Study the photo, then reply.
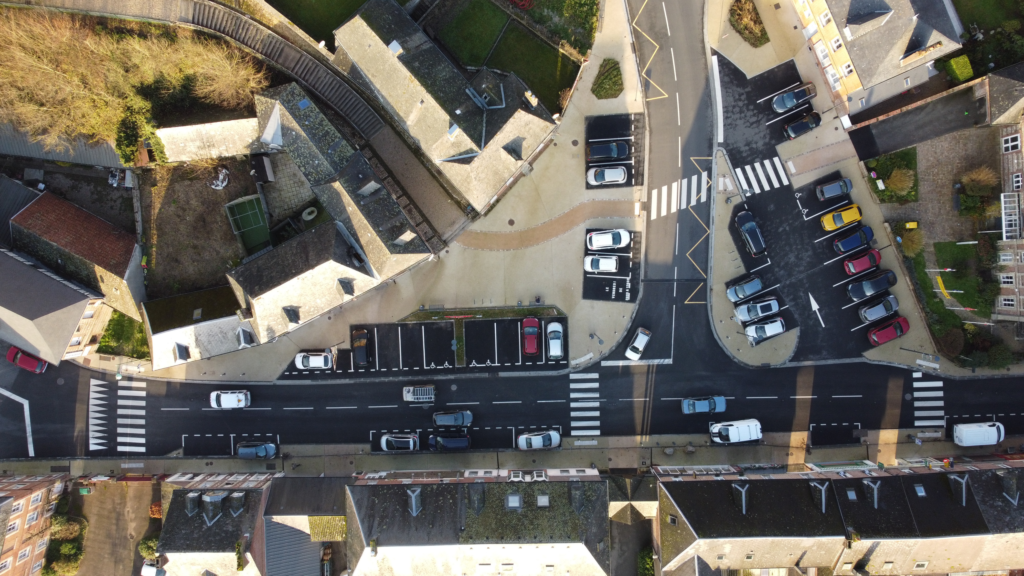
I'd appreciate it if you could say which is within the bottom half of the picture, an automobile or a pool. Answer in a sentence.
Visible within the bottom half of the picture is an automobile.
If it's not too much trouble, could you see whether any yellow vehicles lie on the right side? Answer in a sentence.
Yes, a yellow vehicle appears on the right side.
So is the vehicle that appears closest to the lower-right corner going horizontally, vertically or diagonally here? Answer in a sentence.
What the image shows is the vehicle that appears closest to the lower-right corner lying horizontally.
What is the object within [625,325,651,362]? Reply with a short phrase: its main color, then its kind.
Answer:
white car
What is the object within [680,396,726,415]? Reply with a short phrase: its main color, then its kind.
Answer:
blue car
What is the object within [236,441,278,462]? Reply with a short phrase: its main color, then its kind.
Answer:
blue car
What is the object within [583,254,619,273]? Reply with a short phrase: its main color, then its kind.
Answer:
white car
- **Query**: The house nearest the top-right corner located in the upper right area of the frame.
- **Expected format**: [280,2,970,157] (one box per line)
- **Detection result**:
[973,64,1024,128]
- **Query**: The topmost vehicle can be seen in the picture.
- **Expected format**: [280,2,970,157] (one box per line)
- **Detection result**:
[770,81,819,114]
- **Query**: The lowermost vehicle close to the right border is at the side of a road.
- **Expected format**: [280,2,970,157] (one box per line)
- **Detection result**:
[946,422,1000,446]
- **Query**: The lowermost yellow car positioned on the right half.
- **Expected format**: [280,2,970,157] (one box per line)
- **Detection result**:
[817,202,865,231]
